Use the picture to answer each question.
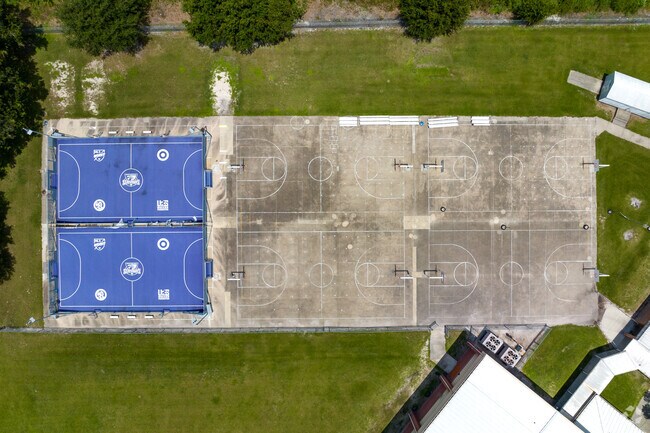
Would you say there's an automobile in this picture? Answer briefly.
No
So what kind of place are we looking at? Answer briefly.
sports ground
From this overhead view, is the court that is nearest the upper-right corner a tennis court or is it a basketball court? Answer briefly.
basketball court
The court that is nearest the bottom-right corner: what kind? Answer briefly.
basketball court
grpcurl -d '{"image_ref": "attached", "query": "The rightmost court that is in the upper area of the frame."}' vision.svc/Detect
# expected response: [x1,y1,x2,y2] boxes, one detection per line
[428,124,592,211]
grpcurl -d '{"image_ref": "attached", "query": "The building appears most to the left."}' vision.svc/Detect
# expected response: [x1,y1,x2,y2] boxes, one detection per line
[404,343,586,433]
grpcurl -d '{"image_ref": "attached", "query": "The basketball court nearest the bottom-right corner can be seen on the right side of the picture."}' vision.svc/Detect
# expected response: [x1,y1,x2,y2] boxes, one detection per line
[429,230,592,317]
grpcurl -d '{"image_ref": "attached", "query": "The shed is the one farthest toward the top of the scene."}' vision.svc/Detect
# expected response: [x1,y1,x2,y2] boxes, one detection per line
[600,70,650,110]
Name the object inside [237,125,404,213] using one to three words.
basketball court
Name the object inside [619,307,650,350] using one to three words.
building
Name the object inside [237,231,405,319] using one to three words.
basketball court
